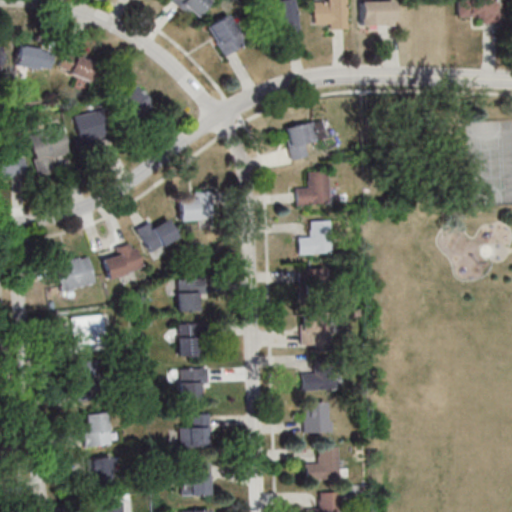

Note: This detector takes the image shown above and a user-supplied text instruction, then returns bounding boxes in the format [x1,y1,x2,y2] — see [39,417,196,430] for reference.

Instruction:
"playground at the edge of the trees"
[436,222,512,282]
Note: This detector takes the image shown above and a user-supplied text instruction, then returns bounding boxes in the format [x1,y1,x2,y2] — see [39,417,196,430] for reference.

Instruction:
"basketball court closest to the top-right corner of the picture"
[466,121,512,203]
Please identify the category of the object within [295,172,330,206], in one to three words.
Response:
house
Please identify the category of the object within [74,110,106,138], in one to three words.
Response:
house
